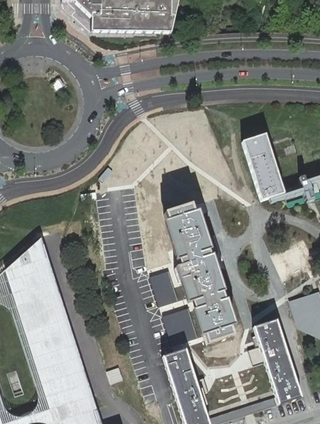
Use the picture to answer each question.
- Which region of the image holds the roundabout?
top left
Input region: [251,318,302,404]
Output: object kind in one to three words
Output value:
building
